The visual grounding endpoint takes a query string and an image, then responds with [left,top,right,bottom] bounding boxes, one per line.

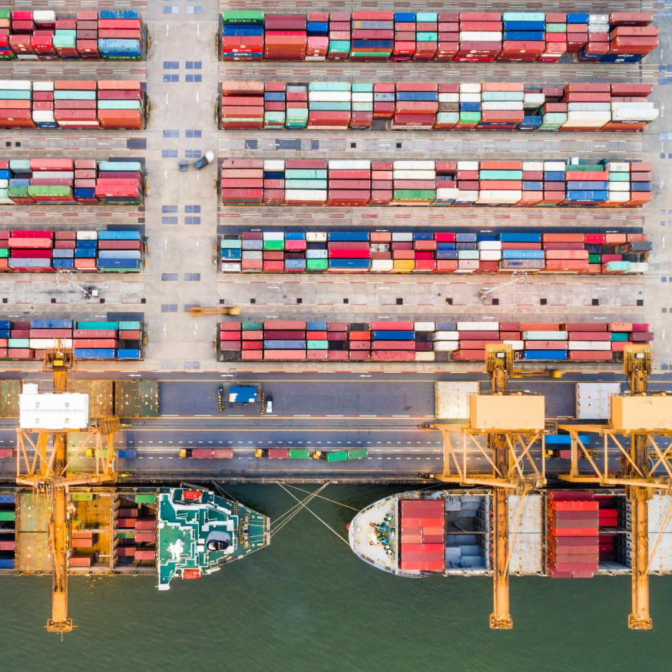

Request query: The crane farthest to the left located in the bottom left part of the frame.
[16,337,132,643]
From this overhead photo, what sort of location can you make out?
port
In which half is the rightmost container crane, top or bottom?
bottom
